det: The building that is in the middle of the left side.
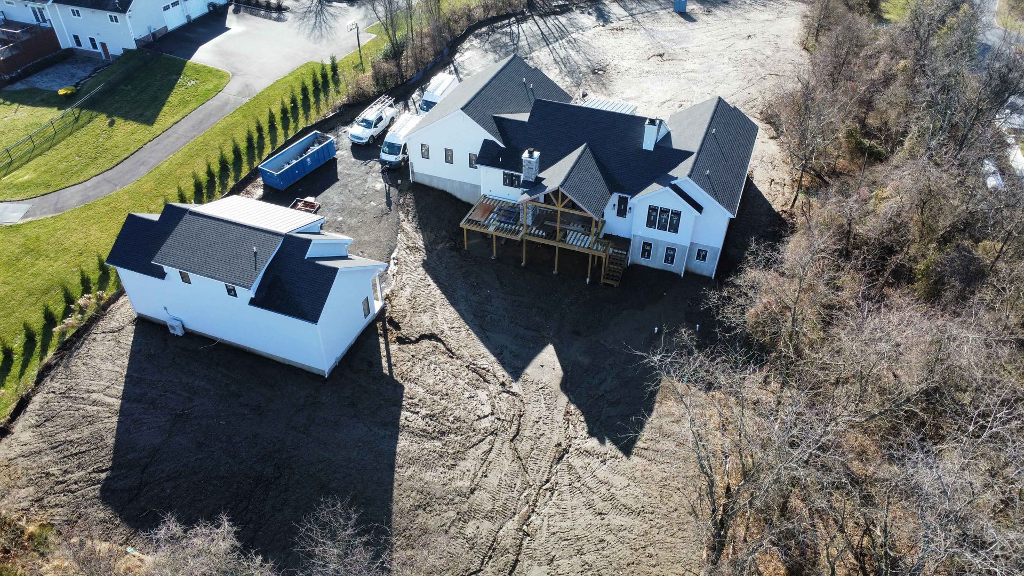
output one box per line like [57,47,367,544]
[101,194,388,379]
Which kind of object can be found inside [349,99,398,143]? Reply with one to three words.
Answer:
truck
